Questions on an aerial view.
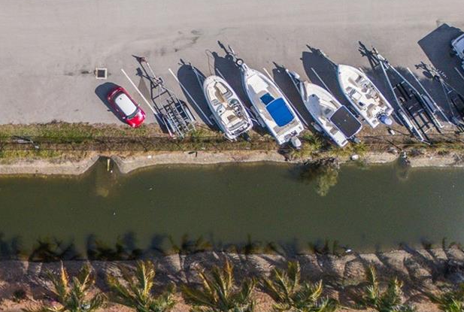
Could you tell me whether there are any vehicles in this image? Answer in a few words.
Yes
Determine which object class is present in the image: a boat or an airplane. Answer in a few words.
boat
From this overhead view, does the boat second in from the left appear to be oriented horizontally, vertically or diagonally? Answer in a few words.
diagonally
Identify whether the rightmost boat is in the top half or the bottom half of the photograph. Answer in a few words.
top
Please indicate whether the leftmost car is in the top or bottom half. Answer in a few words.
top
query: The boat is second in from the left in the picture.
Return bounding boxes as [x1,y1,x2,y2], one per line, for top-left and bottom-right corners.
[249,69,308,148]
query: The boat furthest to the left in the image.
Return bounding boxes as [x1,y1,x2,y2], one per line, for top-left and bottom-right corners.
[208,81,256,148]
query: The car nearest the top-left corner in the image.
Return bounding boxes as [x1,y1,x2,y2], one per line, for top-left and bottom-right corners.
[106,81,144,129]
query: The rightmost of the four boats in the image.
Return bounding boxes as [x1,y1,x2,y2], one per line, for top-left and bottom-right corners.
[342,69,392,137]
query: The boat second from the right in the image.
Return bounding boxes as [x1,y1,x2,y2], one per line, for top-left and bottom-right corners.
[309,86,362,154]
